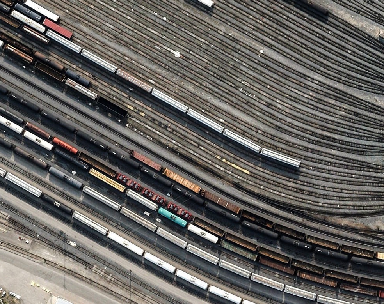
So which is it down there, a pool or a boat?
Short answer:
boat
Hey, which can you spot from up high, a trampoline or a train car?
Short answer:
train car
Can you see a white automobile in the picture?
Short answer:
No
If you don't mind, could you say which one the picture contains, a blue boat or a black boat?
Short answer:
black boat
